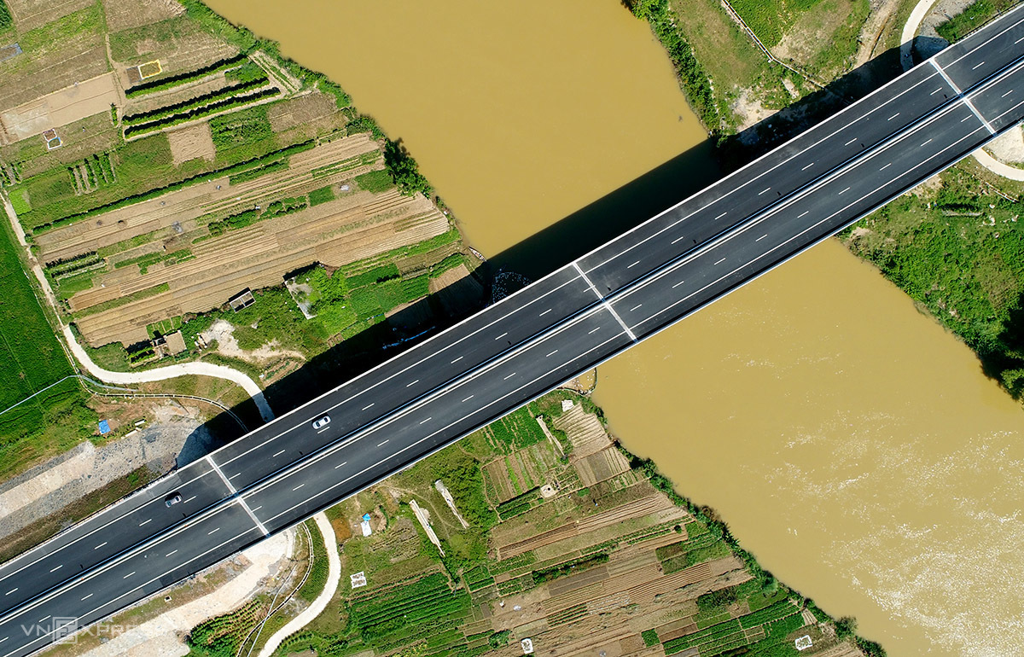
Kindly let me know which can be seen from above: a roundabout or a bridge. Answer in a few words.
bridge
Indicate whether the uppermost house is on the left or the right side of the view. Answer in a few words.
left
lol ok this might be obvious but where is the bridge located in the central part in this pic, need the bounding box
[183,40,1016,560]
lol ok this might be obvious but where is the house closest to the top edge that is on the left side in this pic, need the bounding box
[285,265,322,319]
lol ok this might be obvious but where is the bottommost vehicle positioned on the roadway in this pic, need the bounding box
[165,492,183,505]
